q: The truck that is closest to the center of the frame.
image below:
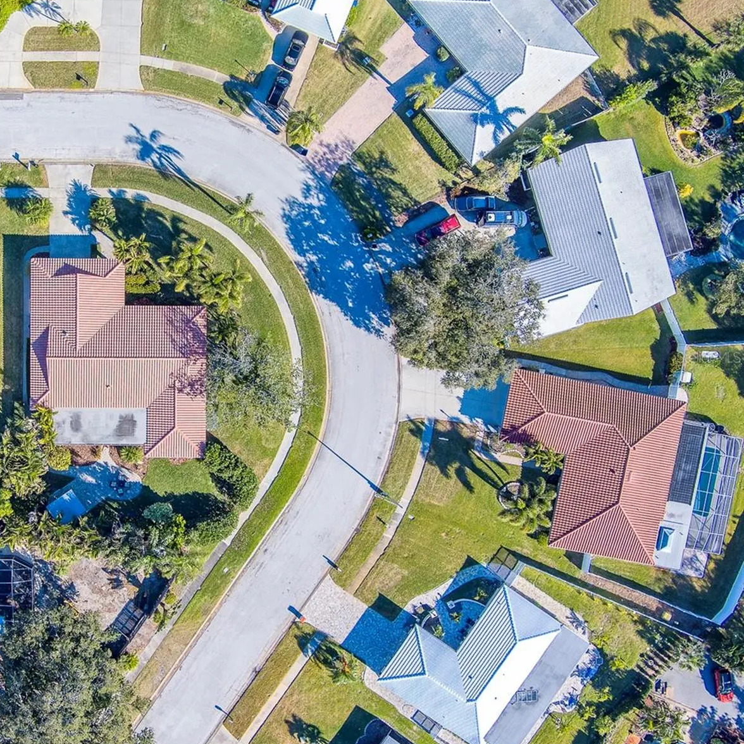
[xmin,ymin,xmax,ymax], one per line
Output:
[413,215,460,244]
